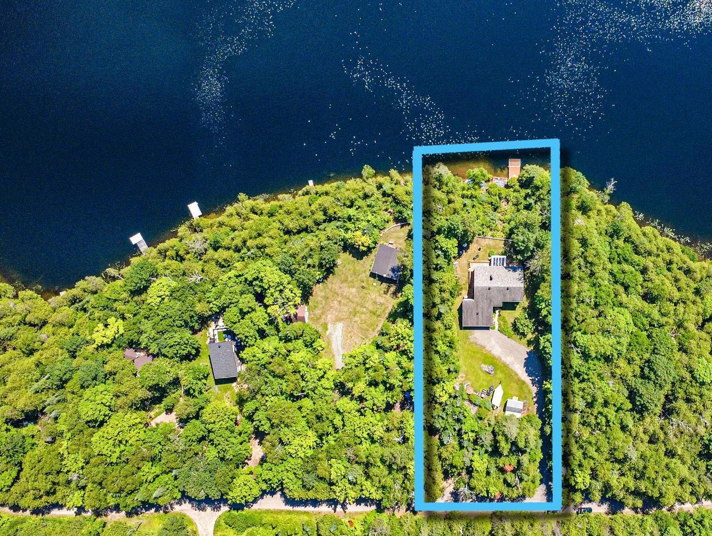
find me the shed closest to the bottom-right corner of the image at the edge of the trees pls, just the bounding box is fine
[505,395,523,417]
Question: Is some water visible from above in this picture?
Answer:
Yes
